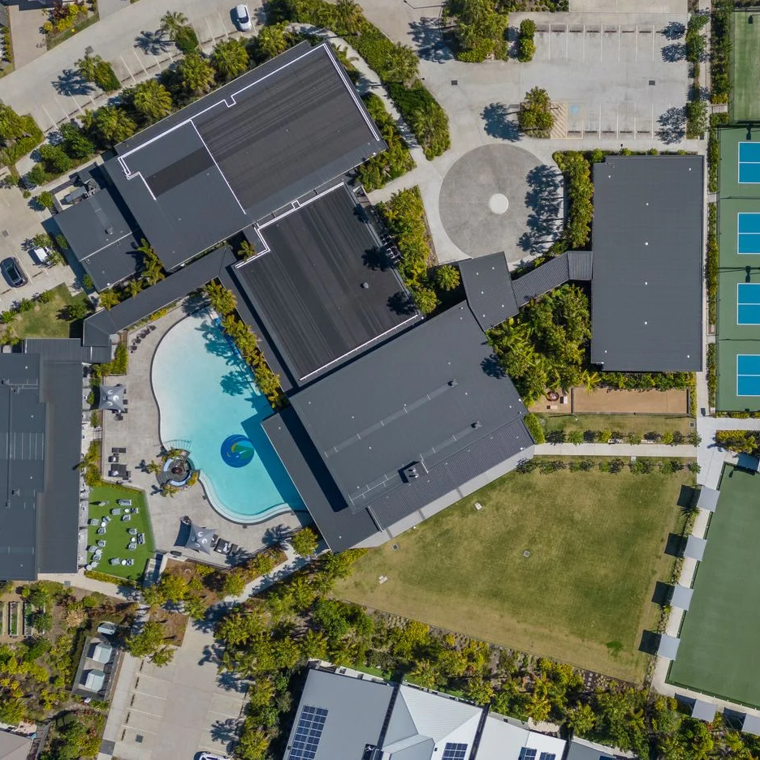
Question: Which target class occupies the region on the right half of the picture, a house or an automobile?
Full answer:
What appears on the right half of the picture is a house.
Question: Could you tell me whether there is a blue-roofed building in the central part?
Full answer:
No, no blue-roofed building is visible in the central part.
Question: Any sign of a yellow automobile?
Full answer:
No, no yellow automobile is visible in the view.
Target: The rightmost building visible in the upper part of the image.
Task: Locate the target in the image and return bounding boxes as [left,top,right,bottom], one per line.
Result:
[590,154,702,373]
